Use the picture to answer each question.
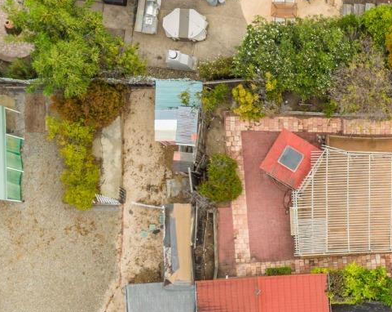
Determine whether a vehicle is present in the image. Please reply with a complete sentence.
No, the frame has no vehicle in it.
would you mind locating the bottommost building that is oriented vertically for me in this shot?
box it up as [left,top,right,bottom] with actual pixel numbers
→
[164,204,196,282]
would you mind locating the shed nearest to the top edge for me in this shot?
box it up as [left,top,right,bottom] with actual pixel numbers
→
[155,80,205,146]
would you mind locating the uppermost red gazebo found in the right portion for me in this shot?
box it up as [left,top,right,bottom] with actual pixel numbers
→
[259,128,321,190]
